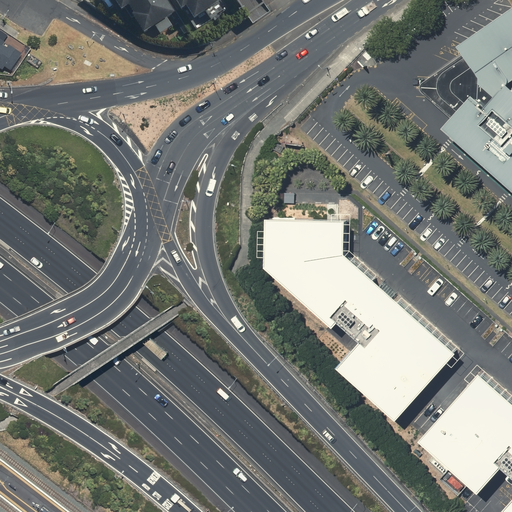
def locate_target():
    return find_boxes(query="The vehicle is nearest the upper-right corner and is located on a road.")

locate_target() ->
[357,2,378,18]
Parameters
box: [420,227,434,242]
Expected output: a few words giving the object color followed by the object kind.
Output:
white car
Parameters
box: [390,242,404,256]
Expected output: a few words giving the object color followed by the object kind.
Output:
blue car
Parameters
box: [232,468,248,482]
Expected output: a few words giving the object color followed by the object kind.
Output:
white vehicle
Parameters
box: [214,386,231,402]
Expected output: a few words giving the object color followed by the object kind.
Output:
white vehicle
